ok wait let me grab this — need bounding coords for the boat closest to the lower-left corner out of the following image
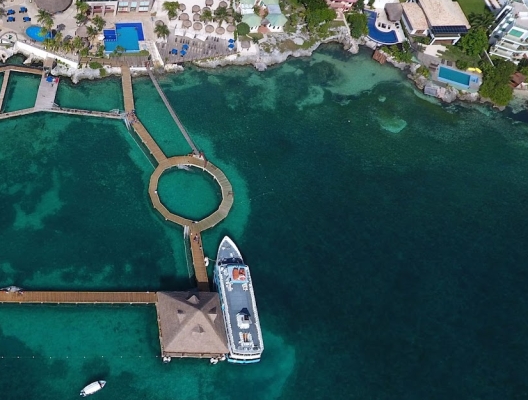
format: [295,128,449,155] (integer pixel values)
[79,380,106,398]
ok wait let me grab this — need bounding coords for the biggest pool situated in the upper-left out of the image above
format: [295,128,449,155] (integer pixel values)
[102,22,146,53]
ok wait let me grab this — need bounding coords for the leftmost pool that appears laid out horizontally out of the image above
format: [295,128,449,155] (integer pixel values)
[24,24,55,42]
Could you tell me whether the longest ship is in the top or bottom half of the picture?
bottom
